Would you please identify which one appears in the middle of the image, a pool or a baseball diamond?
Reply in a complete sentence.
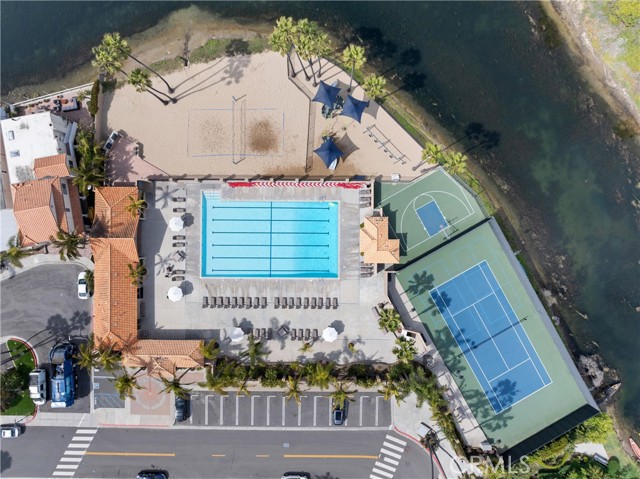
Visible in the middle of the image is a pool.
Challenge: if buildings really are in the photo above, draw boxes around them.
[359,210,401,265]
[1,112,89,251]
[88,186,206,377]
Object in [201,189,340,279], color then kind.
blue swimming pool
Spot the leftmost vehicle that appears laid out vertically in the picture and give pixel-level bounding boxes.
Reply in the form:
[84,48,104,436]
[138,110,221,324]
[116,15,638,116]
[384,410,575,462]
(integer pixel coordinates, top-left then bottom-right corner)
[29,368,46,402]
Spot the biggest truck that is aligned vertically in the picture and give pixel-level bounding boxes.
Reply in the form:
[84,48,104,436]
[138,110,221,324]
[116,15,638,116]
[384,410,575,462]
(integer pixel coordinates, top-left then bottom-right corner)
[52,341,78,405]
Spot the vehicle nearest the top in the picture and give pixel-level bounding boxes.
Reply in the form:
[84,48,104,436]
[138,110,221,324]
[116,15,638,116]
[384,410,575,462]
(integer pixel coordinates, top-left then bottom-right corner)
[76,271,91,300]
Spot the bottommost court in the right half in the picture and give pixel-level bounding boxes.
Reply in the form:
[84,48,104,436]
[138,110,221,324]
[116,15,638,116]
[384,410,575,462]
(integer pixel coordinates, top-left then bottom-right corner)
[398,222,589,454]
